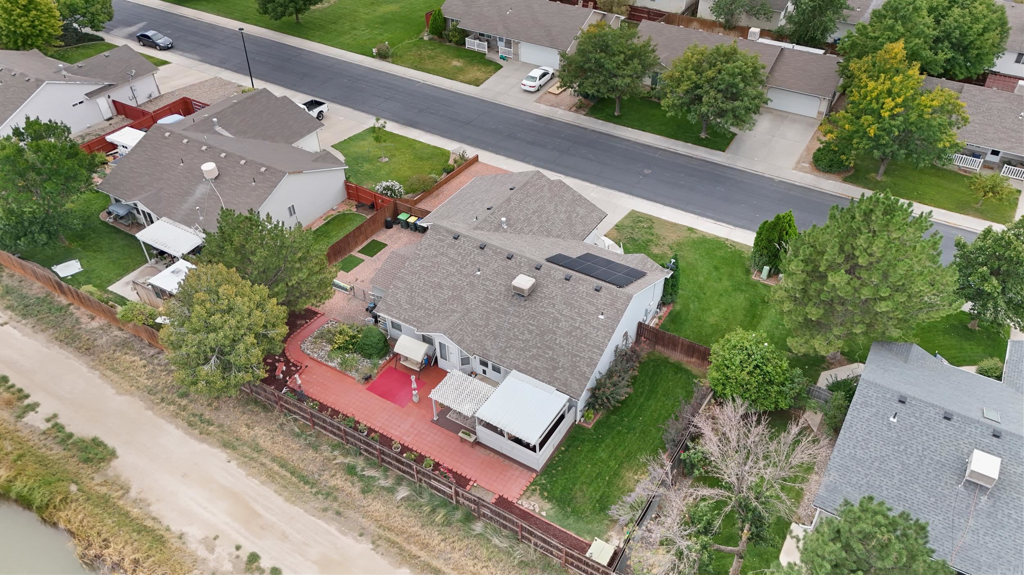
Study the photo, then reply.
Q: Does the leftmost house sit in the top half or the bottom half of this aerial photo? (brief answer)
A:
top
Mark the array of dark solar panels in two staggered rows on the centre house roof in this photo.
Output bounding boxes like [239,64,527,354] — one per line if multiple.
[547,249,646,286]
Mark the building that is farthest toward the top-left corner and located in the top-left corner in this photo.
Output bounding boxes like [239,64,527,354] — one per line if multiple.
[0,45,162,144]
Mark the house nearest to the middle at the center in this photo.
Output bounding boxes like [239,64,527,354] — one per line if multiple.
[368,173,672,427]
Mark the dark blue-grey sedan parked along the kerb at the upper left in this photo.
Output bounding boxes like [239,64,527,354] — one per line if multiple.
[135,31,173,49]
